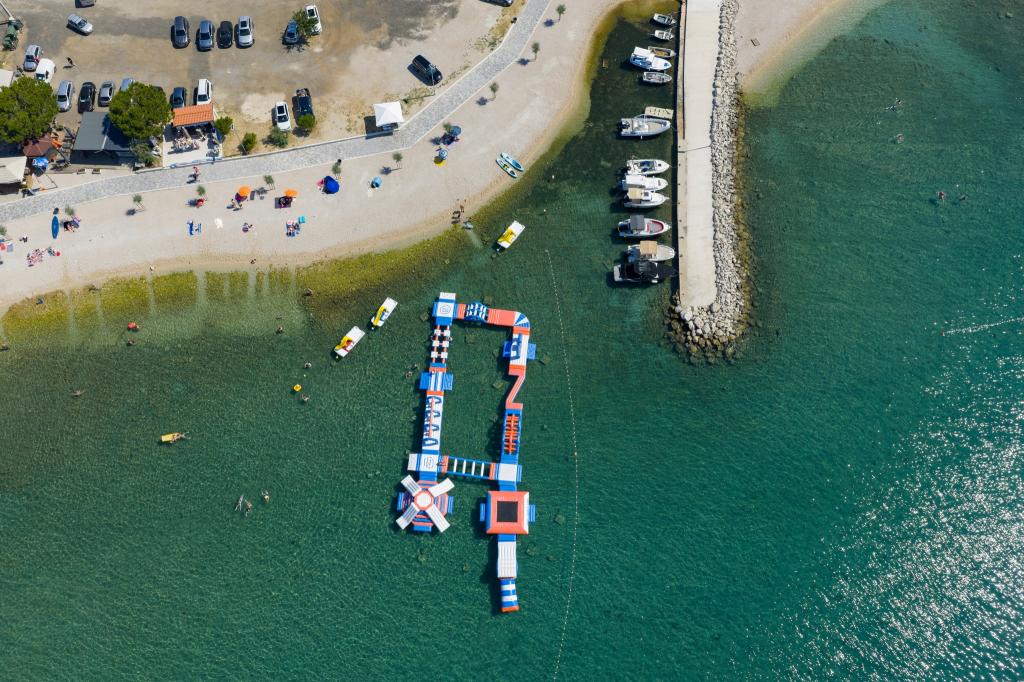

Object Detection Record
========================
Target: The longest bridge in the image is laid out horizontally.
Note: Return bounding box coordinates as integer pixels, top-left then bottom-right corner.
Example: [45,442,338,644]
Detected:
[448,455,497,481]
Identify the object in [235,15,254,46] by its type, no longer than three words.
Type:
car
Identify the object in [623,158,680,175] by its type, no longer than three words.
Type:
boat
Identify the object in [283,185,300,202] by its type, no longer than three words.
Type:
umbrella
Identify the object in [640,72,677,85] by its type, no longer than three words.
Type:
boat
